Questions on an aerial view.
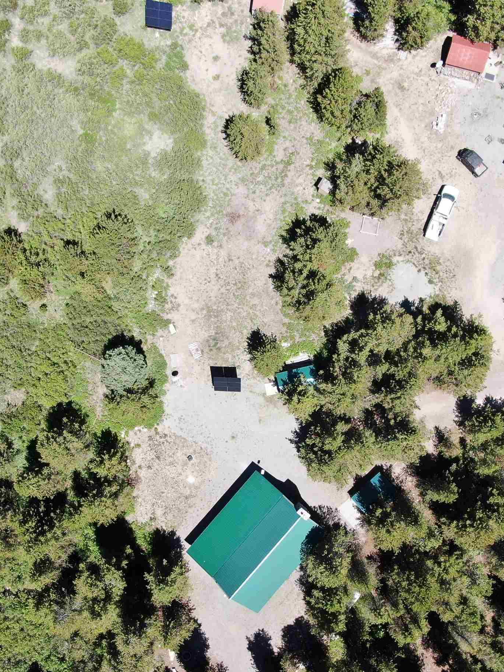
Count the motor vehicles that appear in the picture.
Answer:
2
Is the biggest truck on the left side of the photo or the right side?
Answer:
right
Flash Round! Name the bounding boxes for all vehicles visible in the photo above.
[455,147,488,178]
[422,183,460,245]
